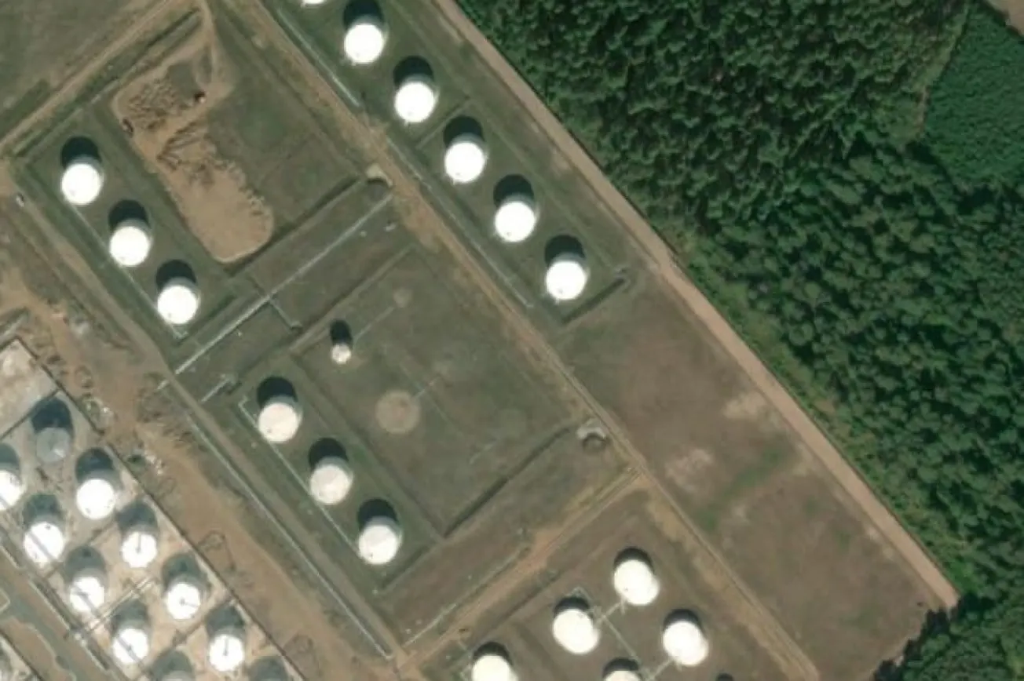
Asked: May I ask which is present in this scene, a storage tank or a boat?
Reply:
storage tank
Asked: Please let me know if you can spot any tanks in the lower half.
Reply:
Yes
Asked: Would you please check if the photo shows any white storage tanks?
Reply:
Yes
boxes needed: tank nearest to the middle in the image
[545,251,591,302]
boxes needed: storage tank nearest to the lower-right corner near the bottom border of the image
[662,616,709,666]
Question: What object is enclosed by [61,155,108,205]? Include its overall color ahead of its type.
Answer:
white storage tank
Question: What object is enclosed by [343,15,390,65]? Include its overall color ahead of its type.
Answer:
white storage tank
